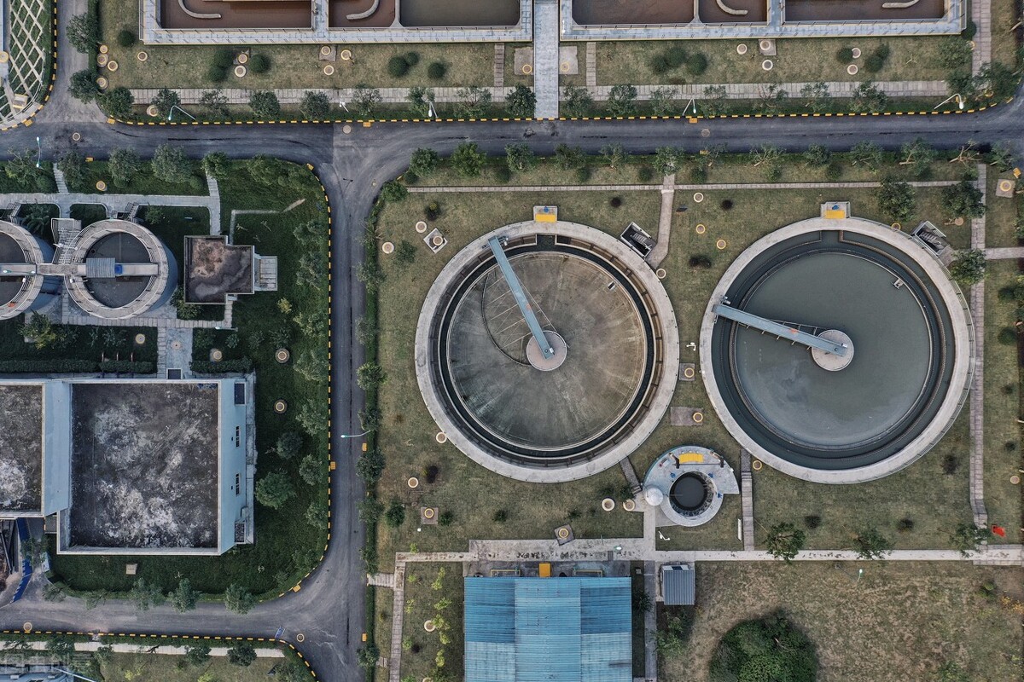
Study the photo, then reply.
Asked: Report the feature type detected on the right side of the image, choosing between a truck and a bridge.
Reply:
bridge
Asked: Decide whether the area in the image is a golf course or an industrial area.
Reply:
industrial area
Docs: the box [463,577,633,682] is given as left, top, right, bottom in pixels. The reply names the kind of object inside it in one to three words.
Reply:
shed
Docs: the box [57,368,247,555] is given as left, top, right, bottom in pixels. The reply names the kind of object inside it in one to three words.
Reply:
building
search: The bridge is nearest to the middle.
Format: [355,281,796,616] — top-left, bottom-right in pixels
[484,235,552,357]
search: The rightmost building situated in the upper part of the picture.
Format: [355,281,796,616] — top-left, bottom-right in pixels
[185,235,259,305]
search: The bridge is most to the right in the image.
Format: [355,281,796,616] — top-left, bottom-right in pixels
[709,298,848,356]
